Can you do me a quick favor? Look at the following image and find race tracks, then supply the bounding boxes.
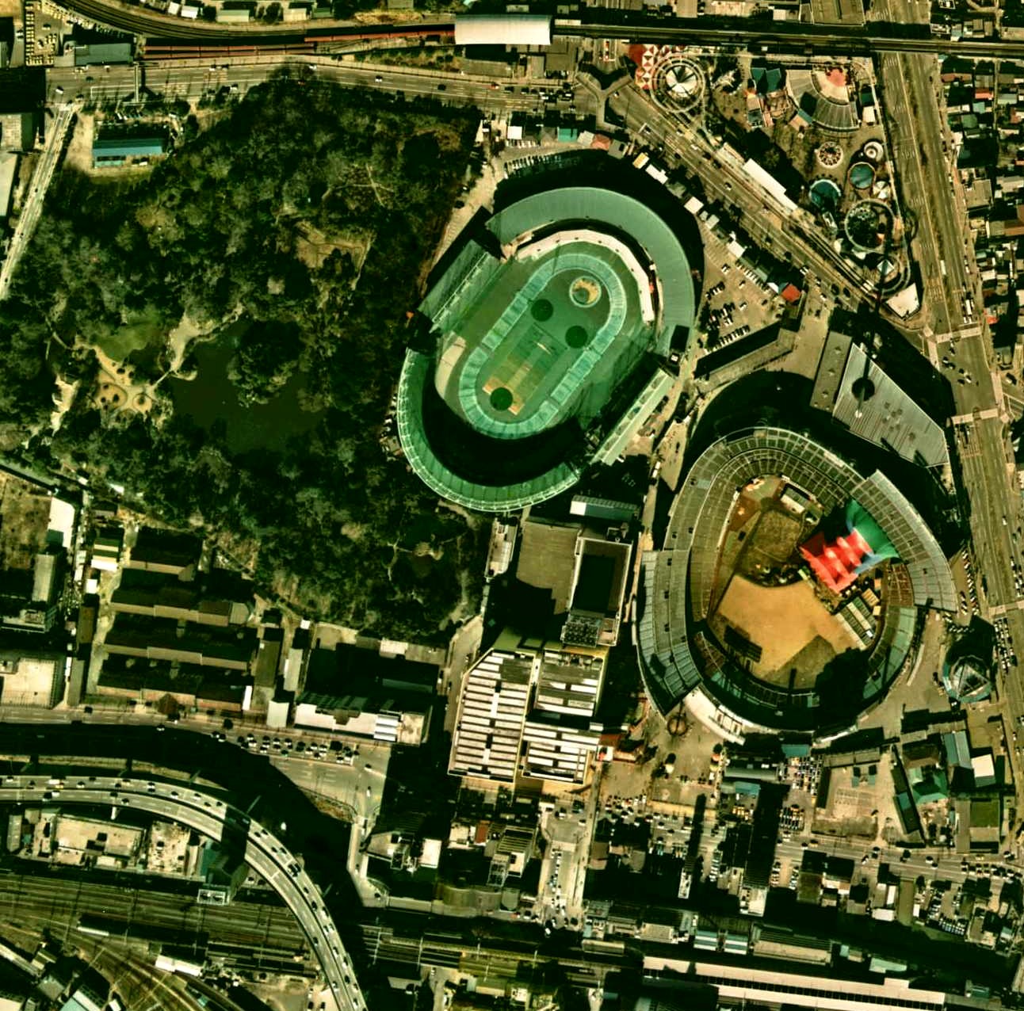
[396,187,697,512]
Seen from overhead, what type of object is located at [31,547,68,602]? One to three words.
building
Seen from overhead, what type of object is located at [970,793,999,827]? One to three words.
building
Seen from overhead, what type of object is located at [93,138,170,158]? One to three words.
house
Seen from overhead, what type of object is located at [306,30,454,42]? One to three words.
train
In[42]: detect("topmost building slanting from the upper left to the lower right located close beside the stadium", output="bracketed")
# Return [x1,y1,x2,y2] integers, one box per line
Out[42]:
[833,340,949,469]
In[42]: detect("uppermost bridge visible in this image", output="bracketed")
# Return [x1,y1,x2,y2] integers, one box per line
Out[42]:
[549,24,1024,57]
